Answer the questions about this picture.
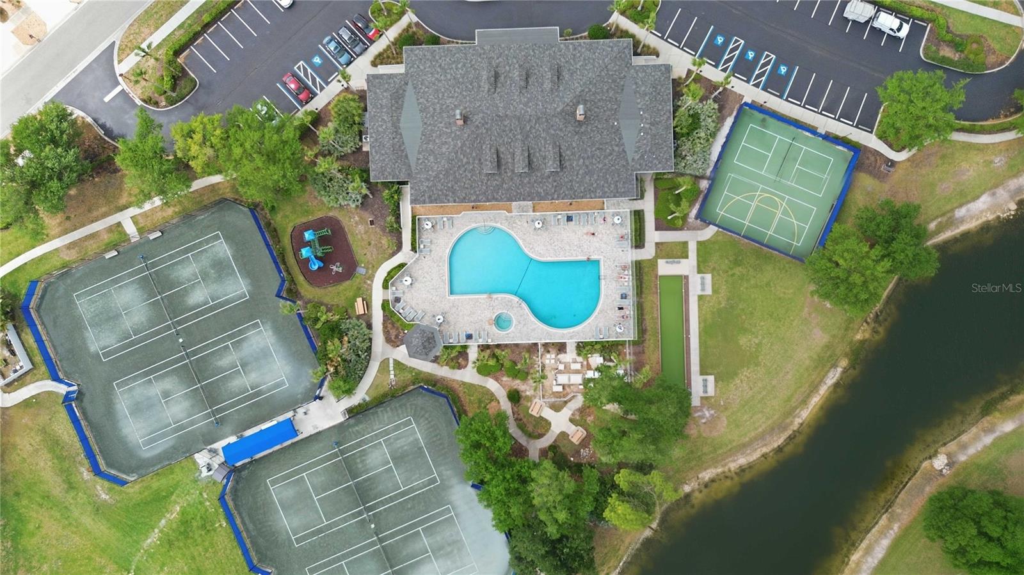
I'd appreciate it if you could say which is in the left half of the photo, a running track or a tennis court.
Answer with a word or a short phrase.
tennis court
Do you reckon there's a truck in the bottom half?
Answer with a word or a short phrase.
No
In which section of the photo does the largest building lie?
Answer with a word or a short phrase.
top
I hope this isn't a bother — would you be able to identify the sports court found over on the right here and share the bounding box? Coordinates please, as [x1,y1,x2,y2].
[700,108,854,255]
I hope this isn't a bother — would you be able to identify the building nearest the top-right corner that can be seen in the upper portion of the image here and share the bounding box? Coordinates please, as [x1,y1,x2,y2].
[366,26,675,206]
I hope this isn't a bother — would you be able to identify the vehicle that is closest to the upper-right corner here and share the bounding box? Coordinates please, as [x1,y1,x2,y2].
[871,10,909,37]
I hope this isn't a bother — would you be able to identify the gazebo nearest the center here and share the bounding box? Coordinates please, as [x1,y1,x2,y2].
[404,324,443,361]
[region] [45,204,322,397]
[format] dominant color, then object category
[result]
gray tennis court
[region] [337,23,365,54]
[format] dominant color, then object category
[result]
gray car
